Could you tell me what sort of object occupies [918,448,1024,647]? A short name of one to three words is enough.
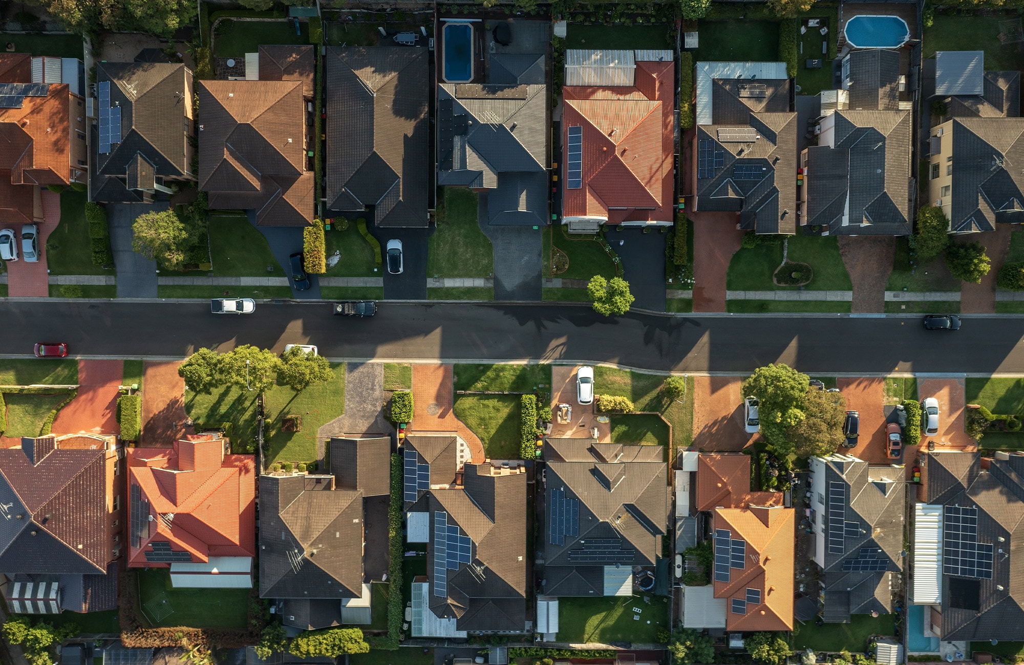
house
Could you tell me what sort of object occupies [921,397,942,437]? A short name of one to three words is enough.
car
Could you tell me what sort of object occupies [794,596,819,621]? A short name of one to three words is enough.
umbrella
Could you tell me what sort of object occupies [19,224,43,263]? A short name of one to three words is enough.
car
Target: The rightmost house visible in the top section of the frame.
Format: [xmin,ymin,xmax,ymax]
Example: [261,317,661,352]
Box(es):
[932,69,1024,234]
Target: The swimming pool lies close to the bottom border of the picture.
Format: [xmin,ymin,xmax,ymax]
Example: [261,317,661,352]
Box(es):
[907,603,941,652]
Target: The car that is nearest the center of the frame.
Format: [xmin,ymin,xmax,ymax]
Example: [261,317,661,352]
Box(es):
[576,365,595,405]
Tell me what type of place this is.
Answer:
residential area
